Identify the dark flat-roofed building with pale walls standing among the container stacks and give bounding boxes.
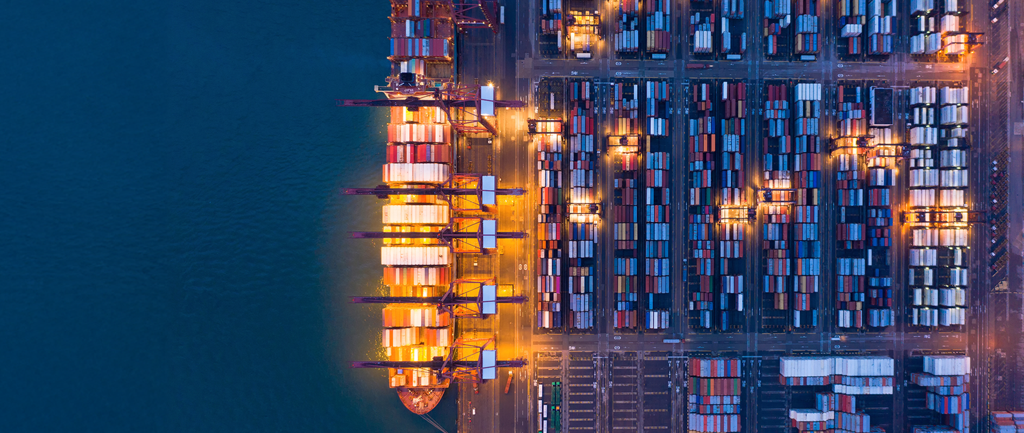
[868,87,893,125]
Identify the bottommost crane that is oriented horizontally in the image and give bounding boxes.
[349,320,530,384]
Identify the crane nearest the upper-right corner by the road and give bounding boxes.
[937,34,985,58]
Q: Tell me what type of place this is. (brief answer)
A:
port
